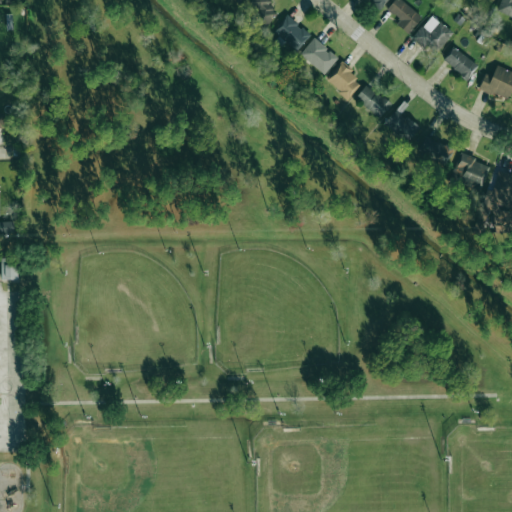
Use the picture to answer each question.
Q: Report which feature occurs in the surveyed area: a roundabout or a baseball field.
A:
baseball field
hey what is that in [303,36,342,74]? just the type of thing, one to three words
house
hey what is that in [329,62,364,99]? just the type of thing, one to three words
house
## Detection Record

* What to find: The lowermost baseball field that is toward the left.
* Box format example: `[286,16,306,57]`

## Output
[64,426,249,512]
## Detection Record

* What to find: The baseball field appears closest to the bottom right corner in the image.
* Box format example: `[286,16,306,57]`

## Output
[448,425,512,512]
